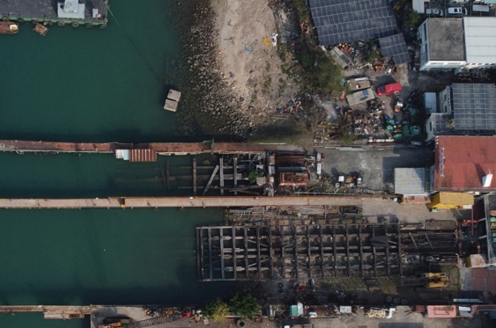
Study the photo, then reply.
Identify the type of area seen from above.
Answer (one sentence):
What you see here is a port.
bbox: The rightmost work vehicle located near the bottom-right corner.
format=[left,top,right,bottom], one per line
[413,274,449,291]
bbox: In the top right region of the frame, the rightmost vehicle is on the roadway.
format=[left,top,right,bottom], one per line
[470,2,491,15]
